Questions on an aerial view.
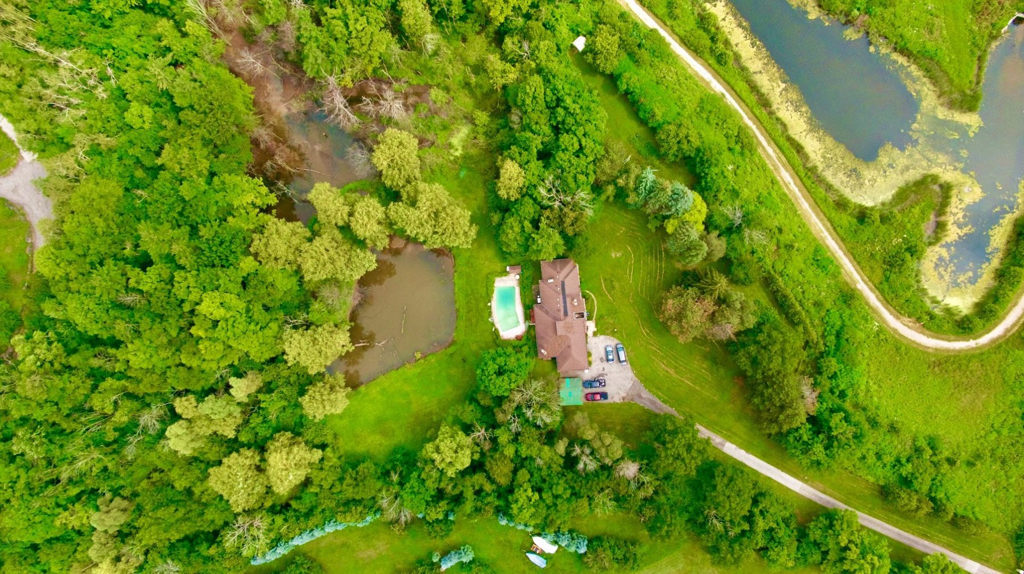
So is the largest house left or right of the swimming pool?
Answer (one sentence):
In the image, the largest house sits on the right side of the swimming pool.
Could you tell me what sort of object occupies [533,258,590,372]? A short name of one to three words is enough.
house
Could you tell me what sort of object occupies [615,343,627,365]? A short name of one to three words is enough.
vehicle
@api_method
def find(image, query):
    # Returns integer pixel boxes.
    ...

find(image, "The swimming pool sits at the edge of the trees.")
[491,274,526,339]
